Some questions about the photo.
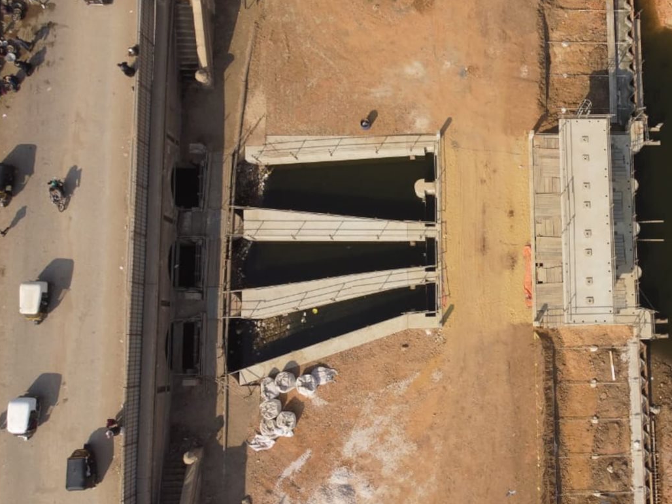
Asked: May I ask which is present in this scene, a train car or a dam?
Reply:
dam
